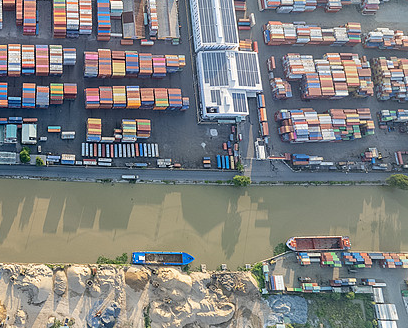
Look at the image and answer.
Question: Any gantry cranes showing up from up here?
No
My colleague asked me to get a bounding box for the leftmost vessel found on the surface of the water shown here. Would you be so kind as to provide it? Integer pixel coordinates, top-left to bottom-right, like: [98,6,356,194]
[130,250,194,265]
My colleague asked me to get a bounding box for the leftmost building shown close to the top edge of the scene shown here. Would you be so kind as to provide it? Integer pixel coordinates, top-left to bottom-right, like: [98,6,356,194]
[120,0,141,41]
